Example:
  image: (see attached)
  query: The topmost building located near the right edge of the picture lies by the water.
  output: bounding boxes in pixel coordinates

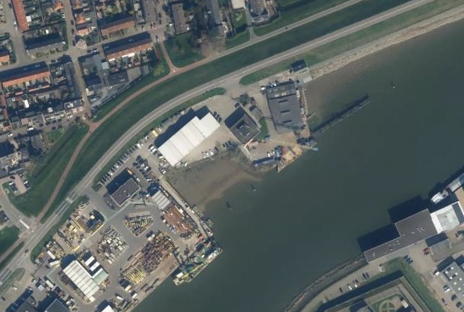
[430,202,464,233]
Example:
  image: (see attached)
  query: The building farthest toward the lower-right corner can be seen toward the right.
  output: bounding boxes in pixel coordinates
[443,262,464,298]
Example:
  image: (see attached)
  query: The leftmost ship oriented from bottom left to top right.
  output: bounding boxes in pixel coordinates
[173,246,222,285]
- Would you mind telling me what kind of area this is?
port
